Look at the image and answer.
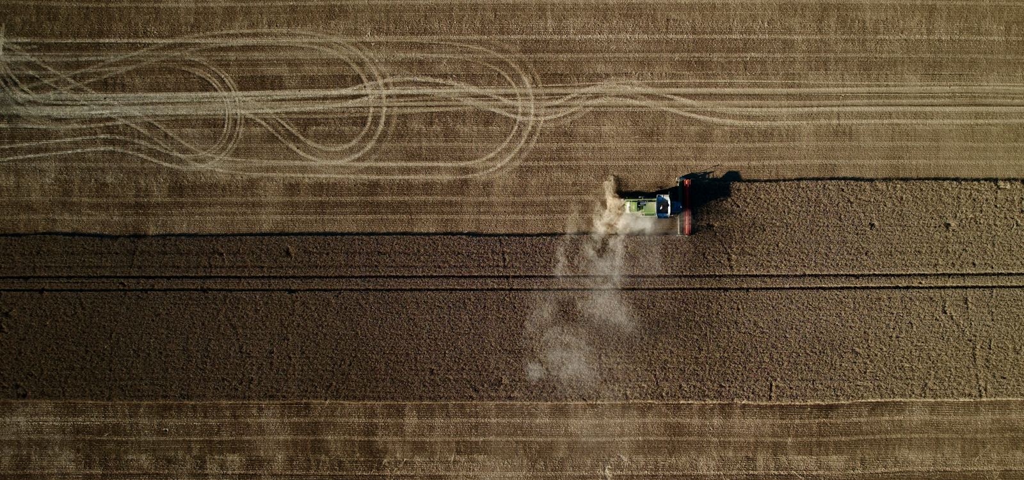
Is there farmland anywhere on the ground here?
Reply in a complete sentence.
Yes, some farmland is visible.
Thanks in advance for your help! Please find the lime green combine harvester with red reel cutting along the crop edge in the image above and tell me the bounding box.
[619,174,691,236]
